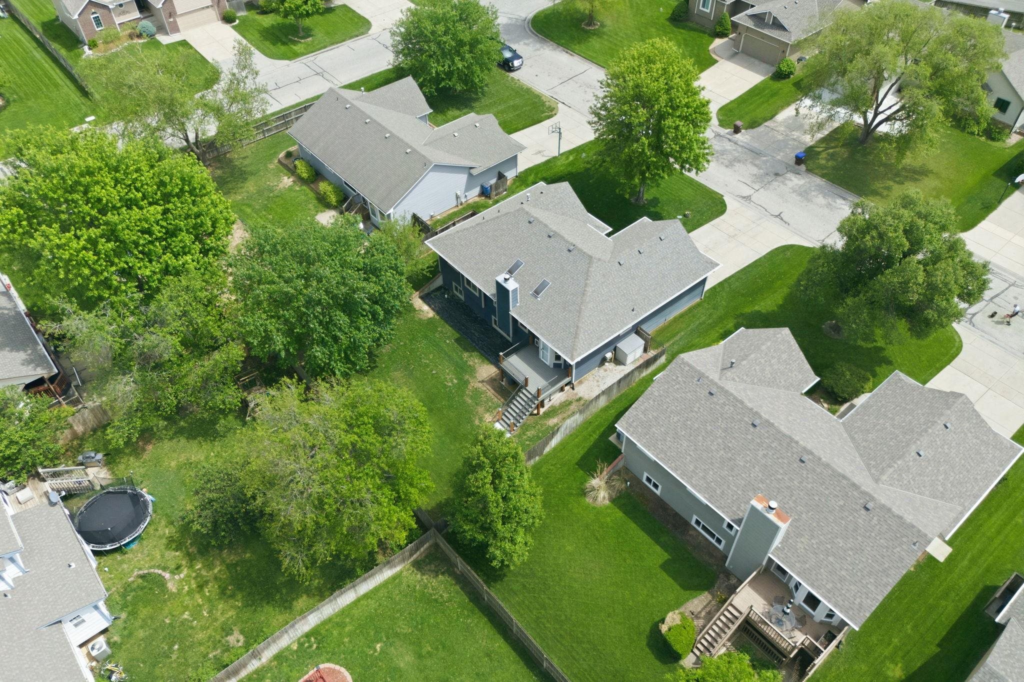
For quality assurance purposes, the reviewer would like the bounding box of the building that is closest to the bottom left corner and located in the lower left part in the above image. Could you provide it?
[0,479,128,682]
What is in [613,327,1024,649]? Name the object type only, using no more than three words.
house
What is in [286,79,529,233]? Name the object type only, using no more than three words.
house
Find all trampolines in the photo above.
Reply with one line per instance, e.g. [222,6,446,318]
[78,475,158,556]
